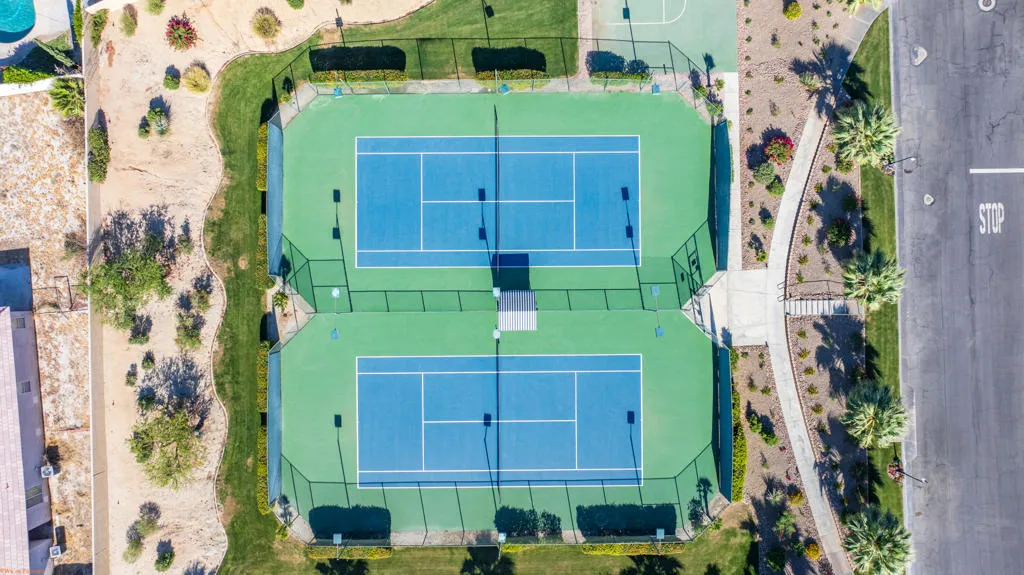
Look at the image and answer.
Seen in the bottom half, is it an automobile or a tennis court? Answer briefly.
tennis court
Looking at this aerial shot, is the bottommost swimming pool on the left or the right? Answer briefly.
left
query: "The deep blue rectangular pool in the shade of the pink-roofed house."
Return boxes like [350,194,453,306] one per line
[0,261,33,311]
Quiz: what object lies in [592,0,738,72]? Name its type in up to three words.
basketball court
